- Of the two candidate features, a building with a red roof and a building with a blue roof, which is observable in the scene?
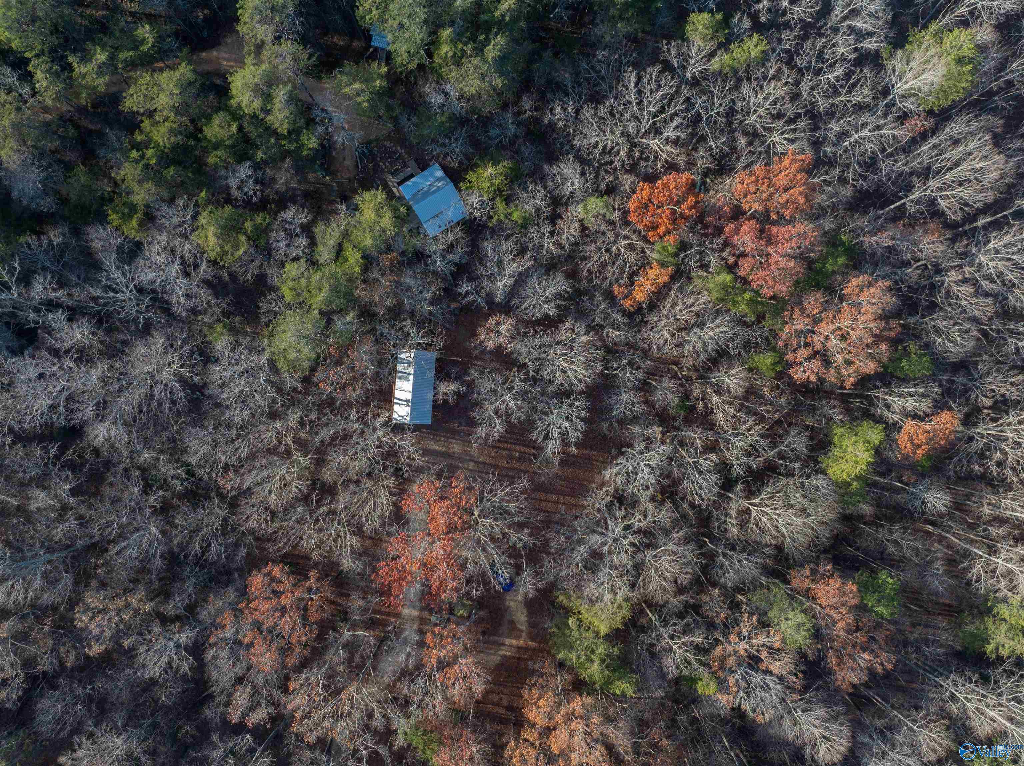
building with a blue roof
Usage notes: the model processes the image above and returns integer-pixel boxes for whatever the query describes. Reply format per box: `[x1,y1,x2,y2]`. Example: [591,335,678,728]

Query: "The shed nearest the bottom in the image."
[392,349,437,424]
